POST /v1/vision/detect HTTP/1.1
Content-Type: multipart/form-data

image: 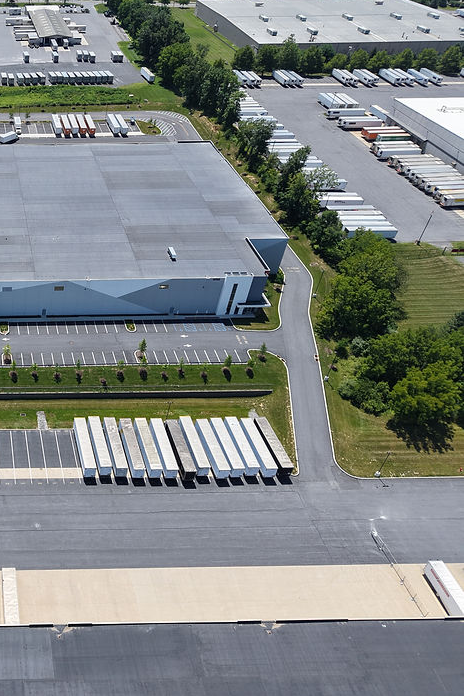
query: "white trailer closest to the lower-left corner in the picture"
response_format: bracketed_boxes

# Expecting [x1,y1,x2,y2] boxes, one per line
[2,568,21,624]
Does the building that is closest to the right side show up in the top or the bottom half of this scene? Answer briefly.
top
